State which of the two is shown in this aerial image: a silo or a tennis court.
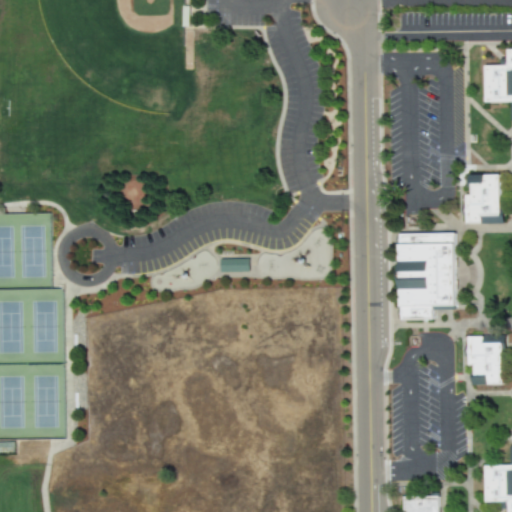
tennis court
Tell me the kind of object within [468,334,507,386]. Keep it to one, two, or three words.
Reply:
building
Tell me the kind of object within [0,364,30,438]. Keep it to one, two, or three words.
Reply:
tennis court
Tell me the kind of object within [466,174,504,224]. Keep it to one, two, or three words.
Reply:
building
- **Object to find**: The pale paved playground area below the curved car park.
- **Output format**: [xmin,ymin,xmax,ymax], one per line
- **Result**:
[121,215,334,292]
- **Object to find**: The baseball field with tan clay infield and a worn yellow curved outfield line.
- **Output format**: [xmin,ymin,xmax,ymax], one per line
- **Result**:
[38,0,189,114]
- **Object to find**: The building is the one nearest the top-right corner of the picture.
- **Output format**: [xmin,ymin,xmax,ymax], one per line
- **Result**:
[484,48,512,102]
